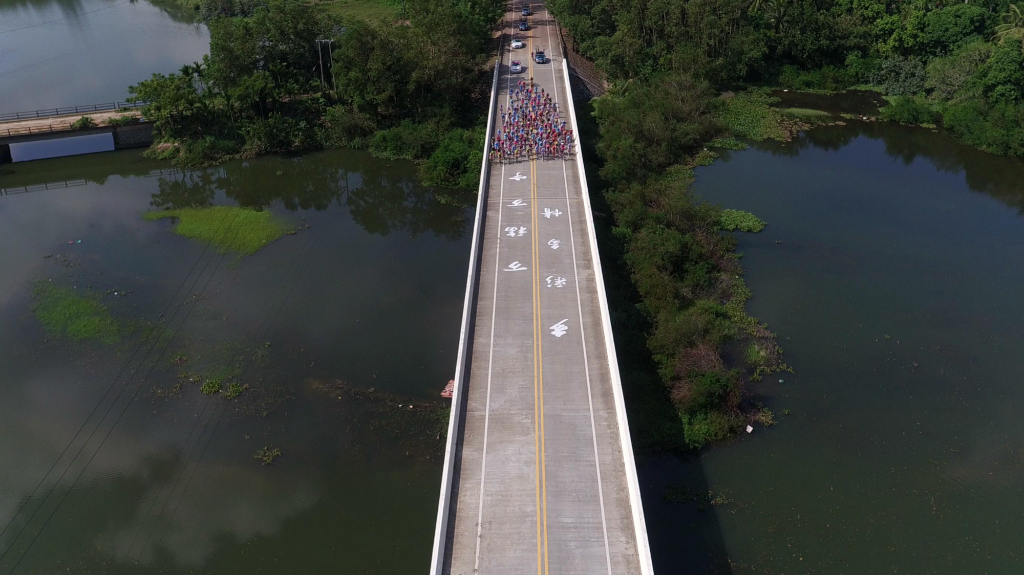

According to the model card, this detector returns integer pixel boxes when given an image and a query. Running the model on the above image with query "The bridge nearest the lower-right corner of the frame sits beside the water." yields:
[430,54,657,575]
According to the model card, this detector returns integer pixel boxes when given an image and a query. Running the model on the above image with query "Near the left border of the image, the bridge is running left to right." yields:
[0,105,164,164]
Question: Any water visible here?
Yes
